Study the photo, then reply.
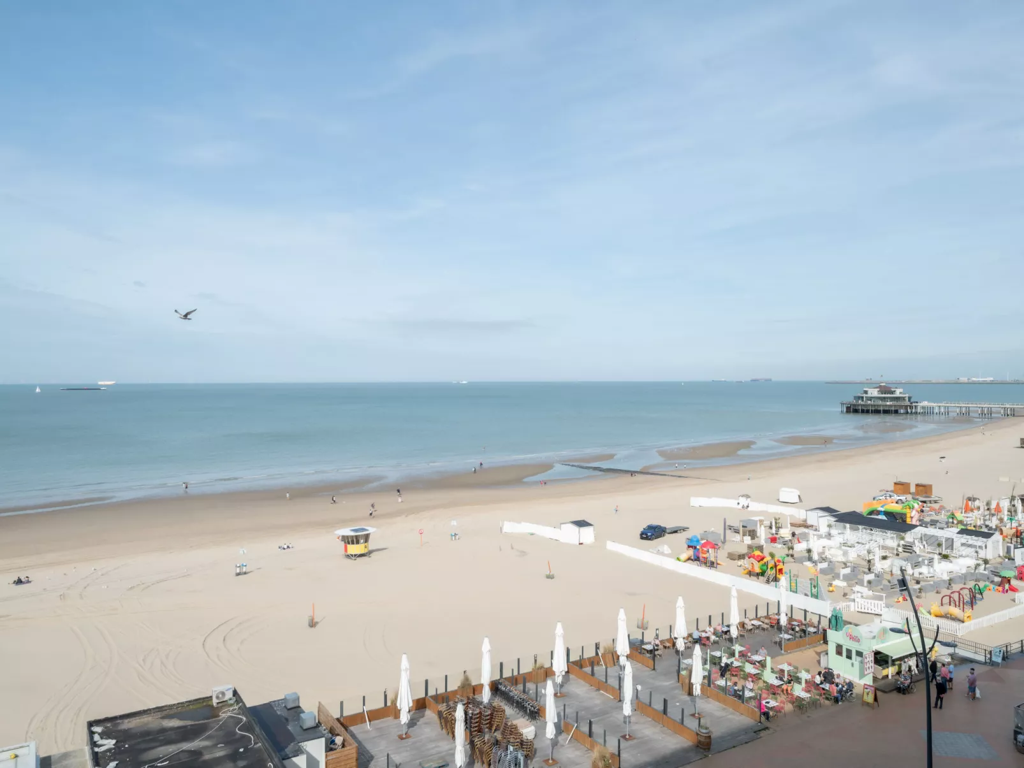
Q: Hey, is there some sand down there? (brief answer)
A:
Yes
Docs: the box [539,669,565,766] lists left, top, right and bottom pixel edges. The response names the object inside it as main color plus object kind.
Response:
white umbrella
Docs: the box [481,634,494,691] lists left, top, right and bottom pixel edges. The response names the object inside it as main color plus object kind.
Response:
white umbrella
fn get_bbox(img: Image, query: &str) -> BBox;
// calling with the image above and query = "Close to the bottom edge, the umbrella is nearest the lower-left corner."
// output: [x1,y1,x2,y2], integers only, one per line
[394,650,415,741]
